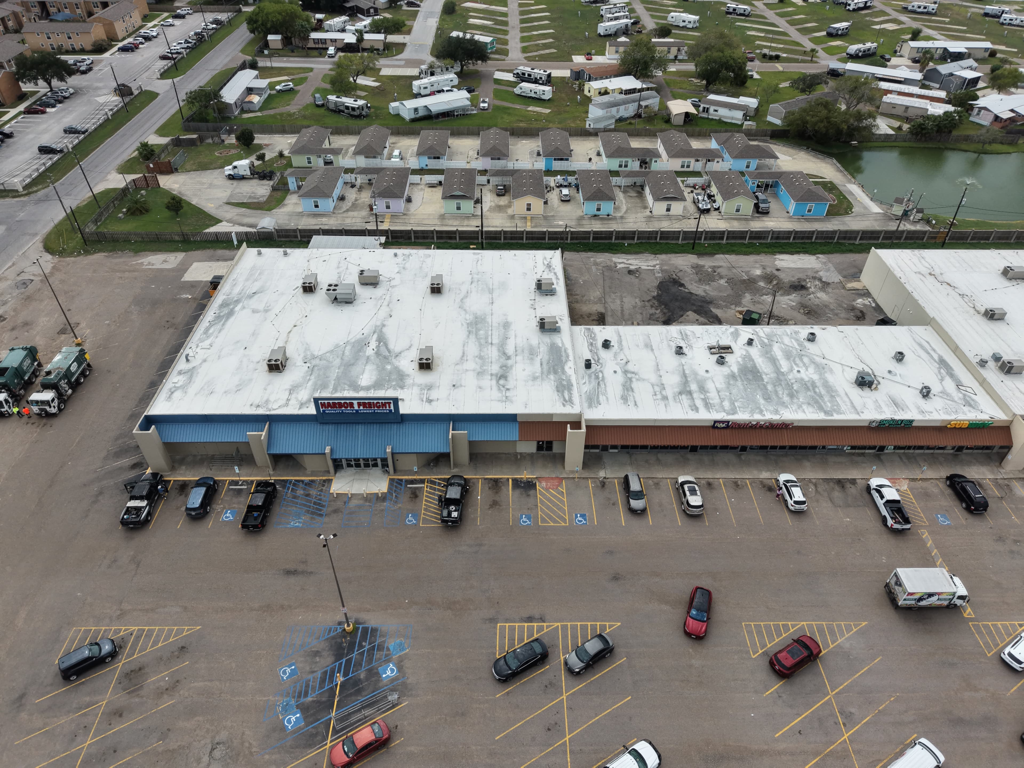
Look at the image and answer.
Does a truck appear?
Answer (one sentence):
Yes, the frame does contain a truck.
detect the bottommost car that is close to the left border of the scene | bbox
[51,637,125,688]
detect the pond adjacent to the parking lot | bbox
[839,147,1024,222]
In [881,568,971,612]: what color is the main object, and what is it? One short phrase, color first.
white truck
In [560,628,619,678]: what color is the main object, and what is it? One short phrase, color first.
gray car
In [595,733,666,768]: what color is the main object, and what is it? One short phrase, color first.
white truck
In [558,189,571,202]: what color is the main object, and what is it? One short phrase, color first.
gray vehicle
